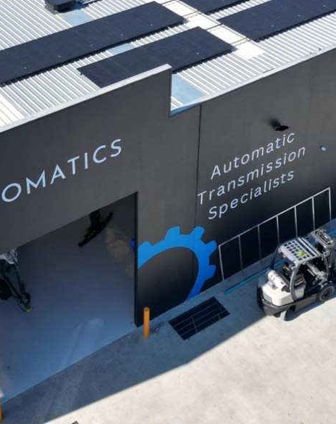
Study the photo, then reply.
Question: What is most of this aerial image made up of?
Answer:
buildings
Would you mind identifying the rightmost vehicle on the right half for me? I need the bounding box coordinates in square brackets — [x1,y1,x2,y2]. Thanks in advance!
[255,227,336,325]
